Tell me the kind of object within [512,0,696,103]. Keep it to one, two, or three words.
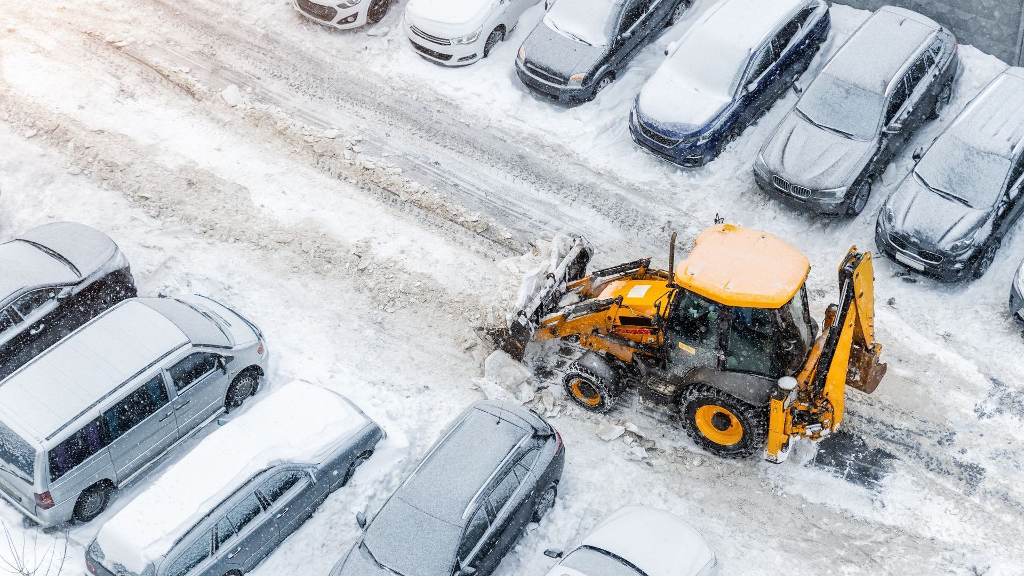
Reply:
car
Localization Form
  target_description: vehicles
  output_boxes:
[1001,241,1024,322]
[0,221,140,380]
[631,0,835,167]
[874,69,1024,280]
[397,0,538,59]
[474,198,891,486]
[327,401,559,576]
[0,294,270,531]
[294,0,399,32]
[755,6,963,218]
[512,0,696,103]
[88,375,385,576]
[534,506,720,576]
